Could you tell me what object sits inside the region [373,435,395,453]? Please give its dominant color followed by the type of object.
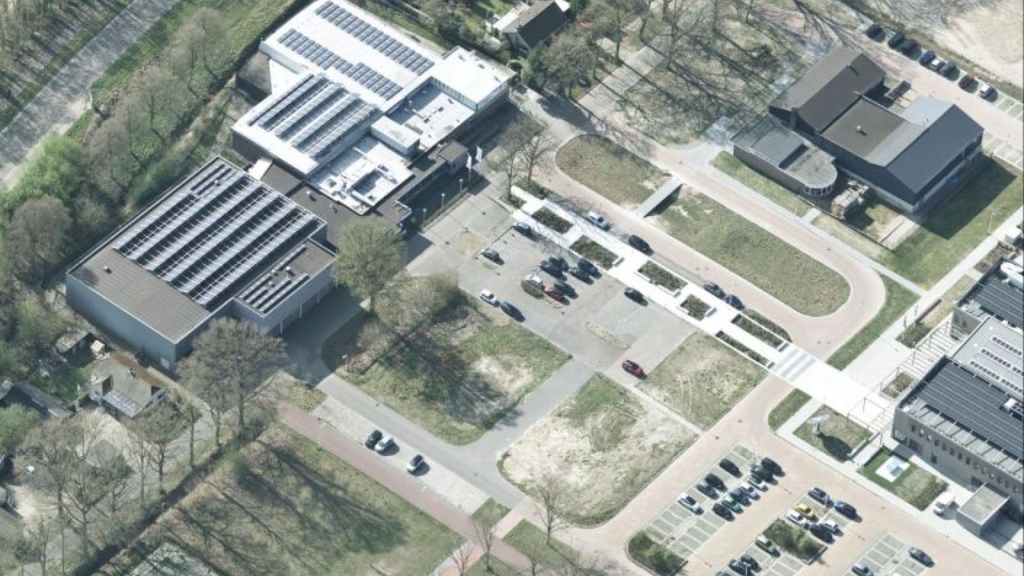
white car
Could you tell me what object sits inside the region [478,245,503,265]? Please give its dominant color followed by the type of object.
gray car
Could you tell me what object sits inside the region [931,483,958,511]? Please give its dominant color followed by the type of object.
white vehicle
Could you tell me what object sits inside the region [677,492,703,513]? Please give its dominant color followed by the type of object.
white car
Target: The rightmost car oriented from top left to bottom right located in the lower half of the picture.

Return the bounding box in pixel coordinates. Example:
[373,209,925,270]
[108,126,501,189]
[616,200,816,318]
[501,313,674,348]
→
[907,546,934,567]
